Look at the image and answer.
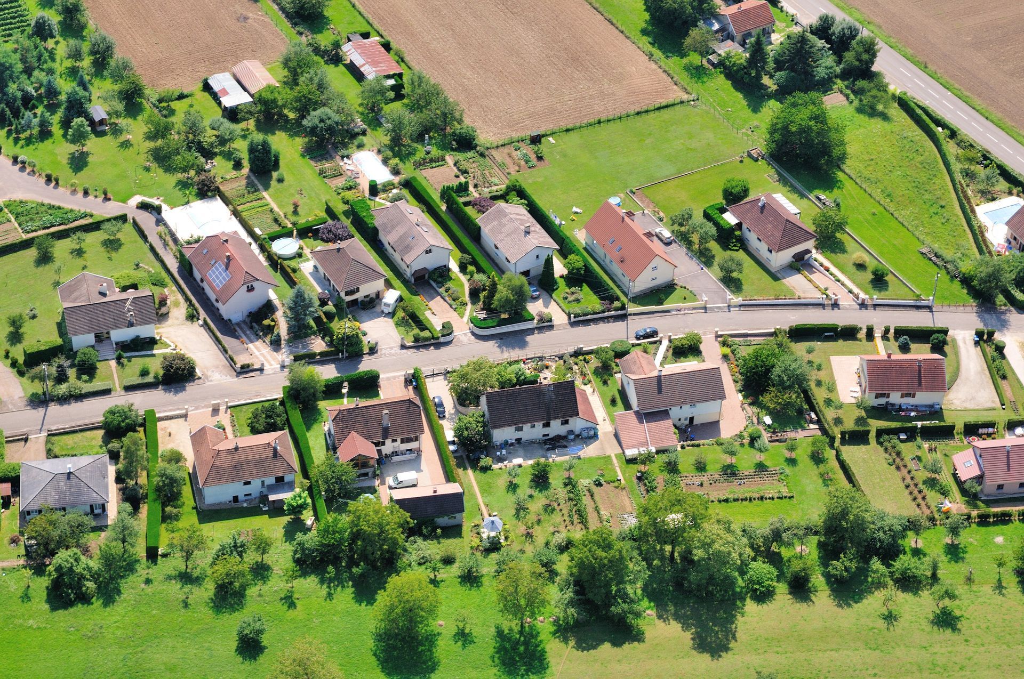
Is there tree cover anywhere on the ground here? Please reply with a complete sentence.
Yes, the picture does contain tree cover.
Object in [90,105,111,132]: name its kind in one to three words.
building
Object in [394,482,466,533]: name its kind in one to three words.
shed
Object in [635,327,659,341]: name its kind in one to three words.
car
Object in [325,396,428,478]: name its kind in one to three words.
house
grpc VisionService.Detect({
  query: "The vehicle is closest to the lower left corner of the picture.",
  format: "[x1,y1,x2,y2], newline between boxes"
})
[390,471,419,489]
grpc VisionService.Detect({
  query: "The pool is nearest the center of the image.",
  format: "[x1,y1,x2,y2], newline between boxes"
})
[608,195,623,208]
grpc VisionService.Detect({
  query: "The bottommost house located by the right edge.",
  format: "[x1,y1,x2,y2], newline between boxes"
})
[947,439,1024,497]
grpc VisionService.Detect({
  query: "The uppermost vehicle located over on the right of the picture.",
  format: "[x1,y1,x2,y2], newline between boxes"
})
[655,227,675,243]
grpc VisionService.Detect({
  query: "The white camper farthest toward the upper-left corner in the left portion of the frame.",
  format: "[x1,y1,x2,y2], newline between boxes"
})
[381,288,402,316]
